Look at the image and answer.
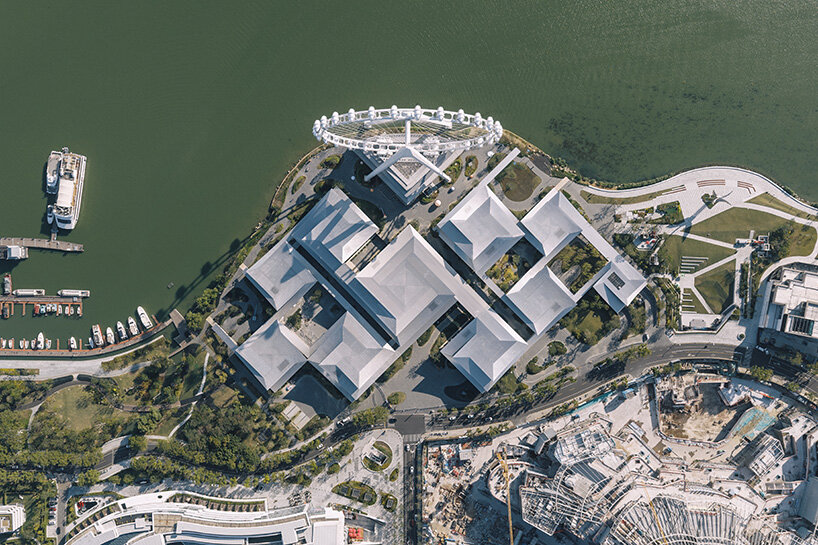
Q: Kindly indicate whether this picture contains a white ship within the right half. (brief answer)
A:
No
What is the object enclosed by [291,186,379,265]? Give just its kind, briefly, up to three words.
building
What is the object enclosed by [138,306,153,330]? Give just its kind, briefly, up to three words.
boat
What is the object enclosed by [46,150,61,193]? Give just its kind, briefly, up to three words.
boat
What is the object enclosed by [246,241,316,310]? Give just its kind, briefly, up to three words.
building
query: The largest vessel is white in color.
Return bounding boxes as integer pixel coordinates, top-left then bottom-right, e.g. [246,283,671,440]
[53,149,85,228]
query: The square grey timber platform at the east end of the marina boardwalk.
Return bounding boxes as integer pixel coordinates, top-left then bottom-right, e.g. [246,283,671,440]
[169,309,189,346]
